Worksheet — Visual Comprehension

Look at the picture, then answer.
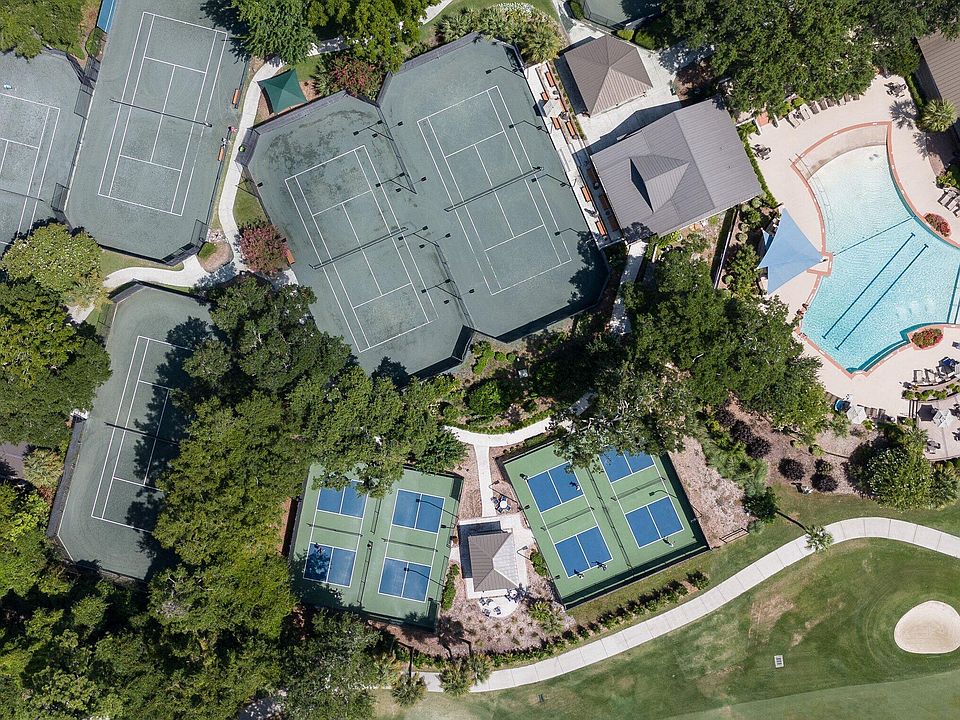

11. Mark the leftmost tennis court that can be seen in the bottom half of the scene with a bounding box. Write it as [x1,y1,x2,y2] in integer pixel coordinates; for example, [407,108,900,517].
[60,286,240,580]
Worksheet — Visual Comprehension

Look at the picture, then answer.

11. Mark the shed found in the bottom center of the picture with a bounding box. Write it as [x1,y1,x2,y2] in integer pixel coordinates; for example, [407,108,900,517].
[469,530,519,592]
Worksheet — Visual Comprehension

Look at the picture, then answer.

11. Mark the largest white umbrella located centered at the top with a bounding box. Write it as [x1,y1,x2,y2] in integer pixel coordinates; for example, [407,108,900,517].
[539,97,562,120]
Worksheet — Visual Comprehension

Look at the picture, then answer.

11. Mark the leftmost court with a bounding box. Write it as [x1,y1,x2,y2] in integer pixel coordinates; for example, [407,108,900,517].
[0,50,83,285]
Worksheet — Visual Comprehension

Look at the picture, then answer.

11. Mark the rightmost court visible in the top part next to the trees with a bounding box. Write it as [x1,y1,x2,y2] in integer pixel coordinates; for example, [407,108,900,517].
[585,0,668,28]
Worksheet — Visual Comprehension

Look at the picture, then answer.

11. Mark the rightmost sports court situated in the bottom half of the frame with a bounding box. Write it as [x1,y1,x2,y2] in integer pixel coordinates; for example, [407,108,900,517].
[579,408,709,579]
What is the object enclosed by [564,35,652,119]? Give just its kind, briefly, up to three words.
building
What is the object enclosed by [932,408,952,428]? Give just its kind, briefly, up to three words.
umbrella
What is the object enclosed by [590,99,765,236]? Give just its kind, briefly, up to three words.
building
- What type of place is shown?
sports ground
